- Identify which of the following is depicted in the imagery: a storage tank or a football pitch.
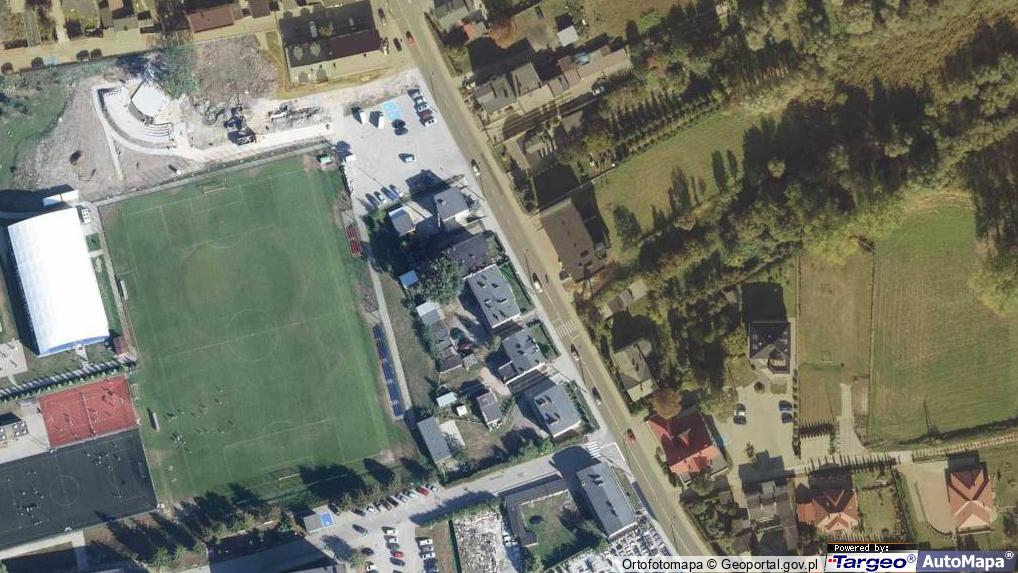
football pitch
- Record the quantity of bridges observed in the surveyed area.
0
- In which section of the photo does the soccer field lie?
left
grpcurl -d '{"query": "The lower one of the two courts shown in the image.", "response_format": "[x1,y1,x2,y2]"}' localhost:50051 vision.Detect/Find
[0,428,158,552]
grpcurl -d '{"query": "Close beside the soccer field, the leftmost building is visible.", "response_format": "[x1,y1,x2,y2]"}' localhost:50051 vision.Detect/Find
[8,209,108,359]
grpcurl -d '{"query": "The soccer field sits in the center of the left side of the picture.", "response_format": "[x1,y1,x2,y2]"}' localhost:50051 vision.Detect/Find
[104,155,408,508]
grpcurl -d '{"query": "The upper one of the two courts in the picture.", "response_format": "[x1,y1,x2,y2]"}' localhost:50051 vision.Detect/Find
[38,377,139,447]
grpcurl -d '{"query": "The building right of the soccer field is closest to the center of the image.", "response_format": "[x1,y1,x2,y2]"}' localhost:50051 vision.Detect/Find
[464,263,523,330]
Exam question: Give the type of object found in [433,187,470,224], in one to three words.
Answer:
house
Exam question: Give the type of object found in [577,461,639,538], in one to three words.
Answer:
building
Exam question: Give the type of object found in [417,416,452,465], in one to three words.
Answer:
barn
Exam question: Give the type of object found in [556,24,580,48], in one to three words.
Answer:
shed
